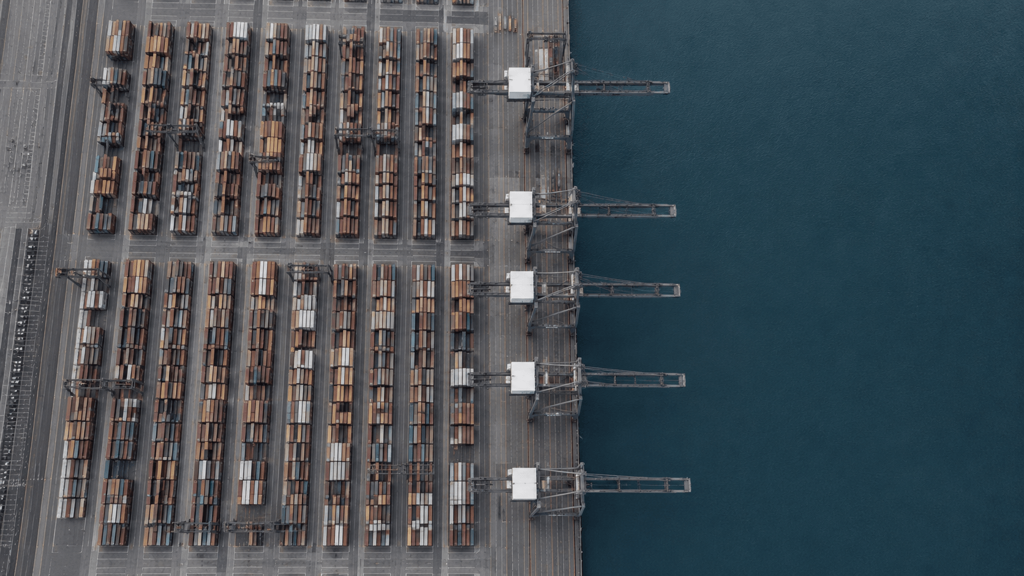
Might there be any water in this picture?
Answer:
Yes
